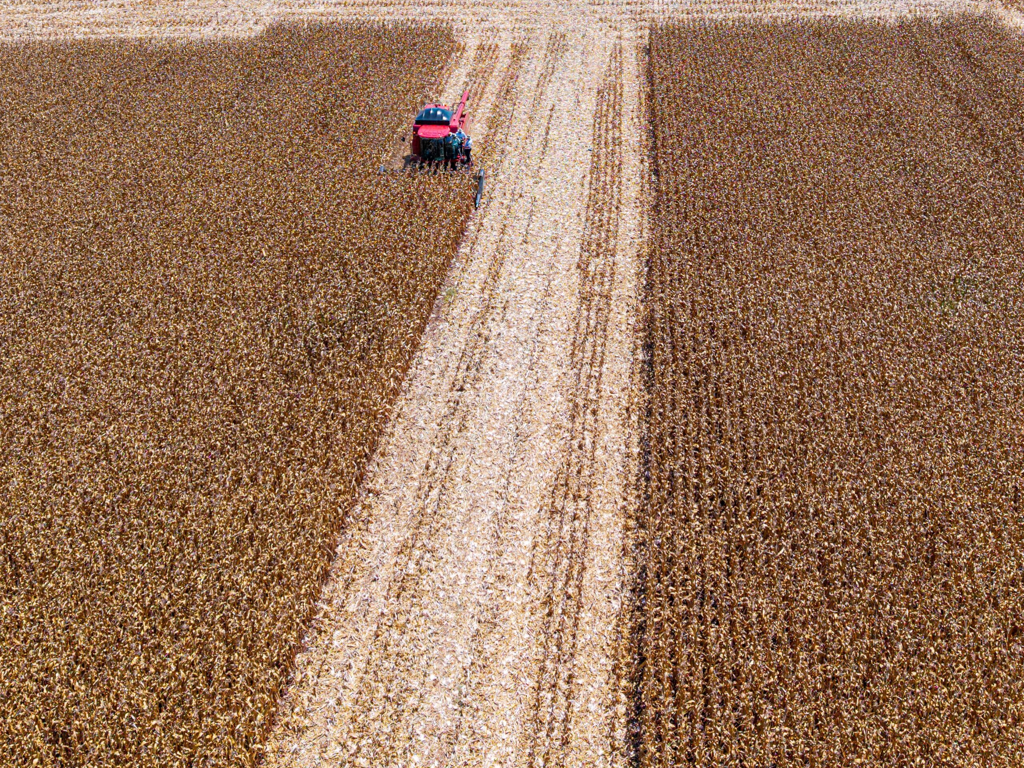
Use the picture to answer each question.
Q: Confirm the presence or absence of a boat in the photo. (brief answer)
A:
No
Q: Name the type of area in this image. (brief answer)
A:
farmland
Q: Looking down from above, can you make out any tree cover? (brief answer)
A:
No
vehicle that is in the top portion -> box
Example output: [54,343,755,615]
[376,84,487,213]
